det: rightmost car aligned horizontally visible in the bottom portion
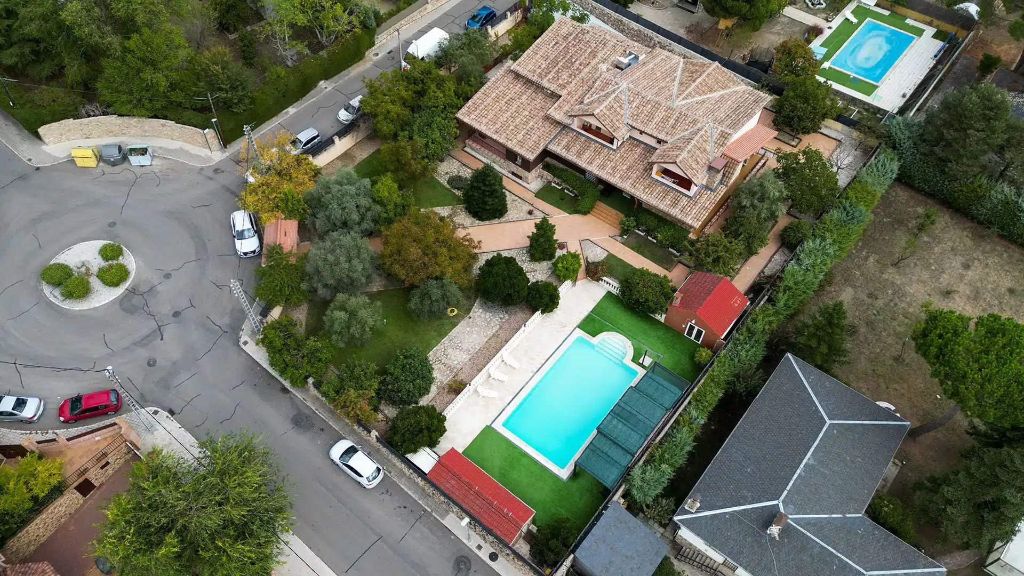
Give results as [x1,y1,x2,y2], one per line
[59,389,122,422]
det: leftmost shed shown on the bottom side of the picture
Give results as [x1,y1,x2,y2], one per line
[426,447,537,545]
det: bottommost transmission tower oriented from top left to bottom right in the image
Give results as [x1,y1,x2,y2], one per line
[94,366,157,434]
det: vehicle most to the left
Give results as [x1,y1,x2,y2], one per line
[0,389,47,424]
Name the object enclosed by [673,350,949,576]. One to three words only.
house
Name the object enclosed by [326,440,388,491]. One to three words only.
car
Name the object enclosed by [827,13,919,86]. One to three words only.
swimming pool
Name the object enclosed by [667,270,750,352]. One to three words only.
shed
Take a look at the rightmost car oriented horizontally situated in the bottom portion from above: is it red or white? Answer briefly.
red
